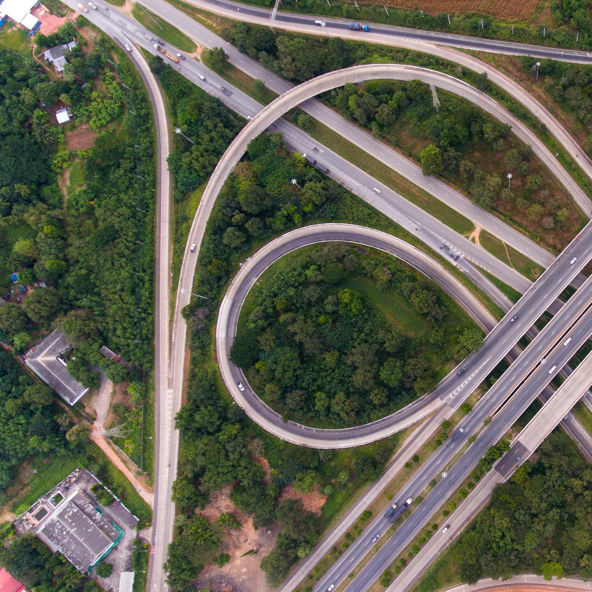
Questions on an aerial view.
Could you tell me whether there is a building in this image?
Yes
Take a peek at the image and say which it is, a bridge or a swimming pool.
bridge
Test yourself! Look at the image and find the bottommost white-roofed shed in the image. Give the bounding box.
[118,571,139,592]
